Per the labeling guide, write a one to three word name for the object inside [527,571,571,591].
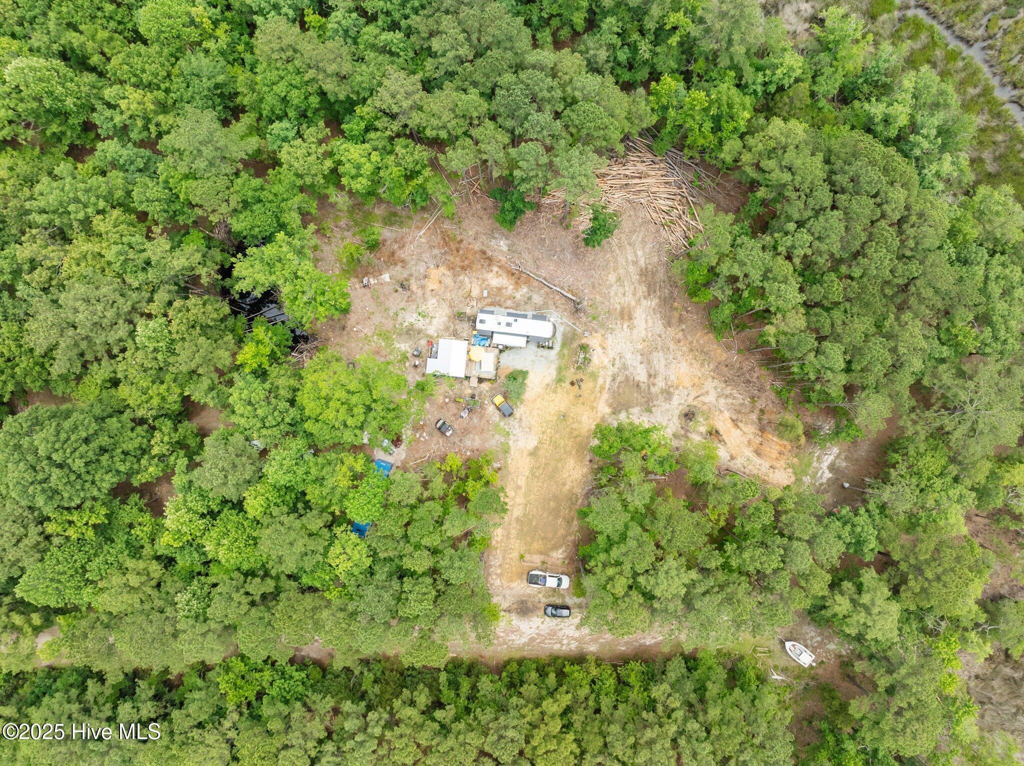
vehicle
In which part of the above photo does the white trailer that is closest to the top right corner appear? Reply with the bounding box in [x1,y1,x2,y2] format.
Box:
[475,309,556,347]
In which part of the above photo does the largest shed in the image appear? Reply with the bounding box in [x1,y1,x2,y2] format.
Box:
[426,338,468,377]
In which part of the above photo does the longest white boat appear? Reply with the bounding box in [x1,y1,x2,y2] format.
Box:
[789,643,818,670]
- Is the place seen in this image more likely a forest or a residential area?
forest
